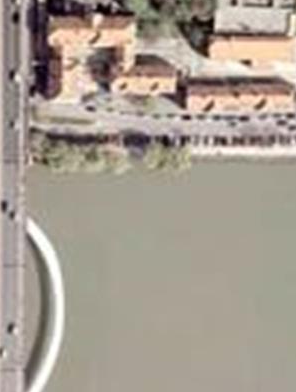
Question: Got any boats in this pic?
No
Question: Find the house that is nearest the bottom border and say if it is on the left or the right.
right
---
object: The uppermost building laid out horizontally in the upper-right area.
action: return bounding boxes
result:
[213,0,296,34]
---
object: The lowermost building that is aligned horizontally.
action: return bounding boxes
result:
[185,80,296,112]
